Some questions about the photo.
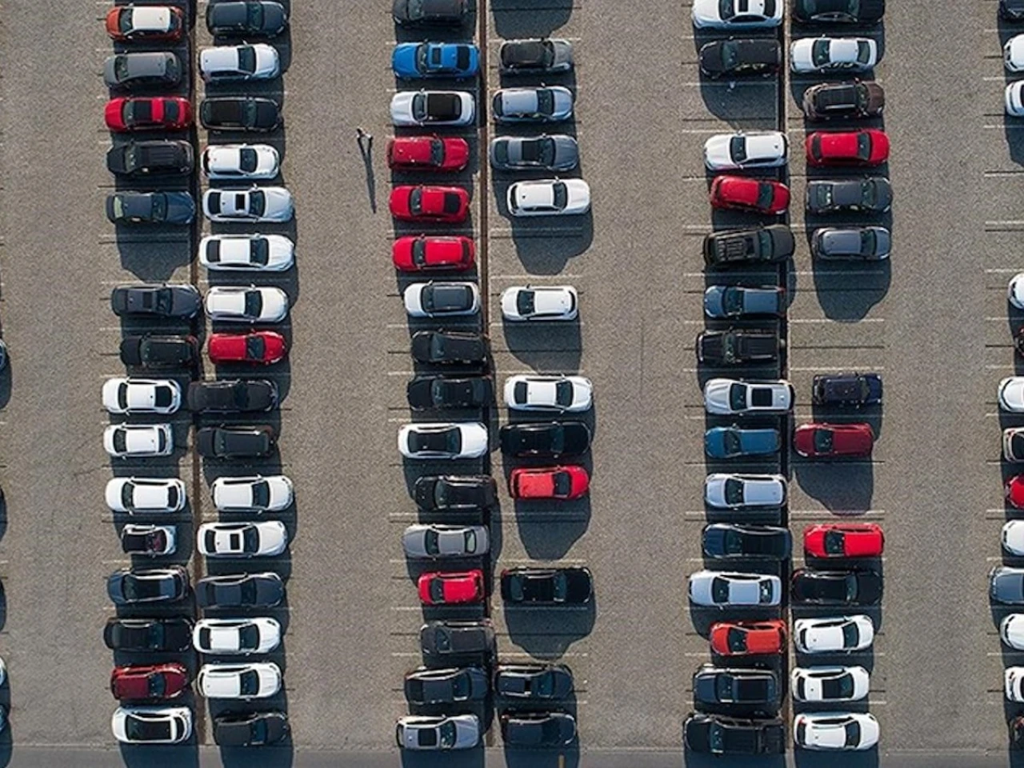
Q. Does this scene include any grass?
No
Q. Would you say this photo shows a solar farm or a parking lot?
parking lot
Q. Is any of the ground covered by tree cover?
No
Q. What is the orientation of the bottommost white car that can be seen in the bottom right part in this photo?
from left to right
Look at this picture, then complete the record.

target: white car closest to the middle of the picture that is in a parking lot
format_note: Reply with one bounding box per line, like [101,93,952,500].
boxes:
[503,374,594,414]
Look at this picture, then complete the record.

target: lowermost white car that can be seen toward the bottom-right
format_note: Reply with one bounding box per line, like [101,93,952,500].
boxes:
[792,712,881,757]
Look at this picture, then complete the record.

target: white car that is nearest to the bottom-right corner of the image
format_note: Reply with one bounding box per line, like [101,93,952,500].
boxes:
[1001,664,1024,703]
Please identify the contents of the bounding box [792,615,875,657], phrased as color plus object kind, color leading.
white car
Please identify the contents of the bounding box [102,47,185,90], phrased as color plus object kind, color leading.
gray car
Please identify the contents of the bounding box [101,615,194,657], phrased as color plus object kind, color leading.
black car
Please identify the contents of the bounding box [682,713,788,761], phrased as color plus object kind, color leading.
black truck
